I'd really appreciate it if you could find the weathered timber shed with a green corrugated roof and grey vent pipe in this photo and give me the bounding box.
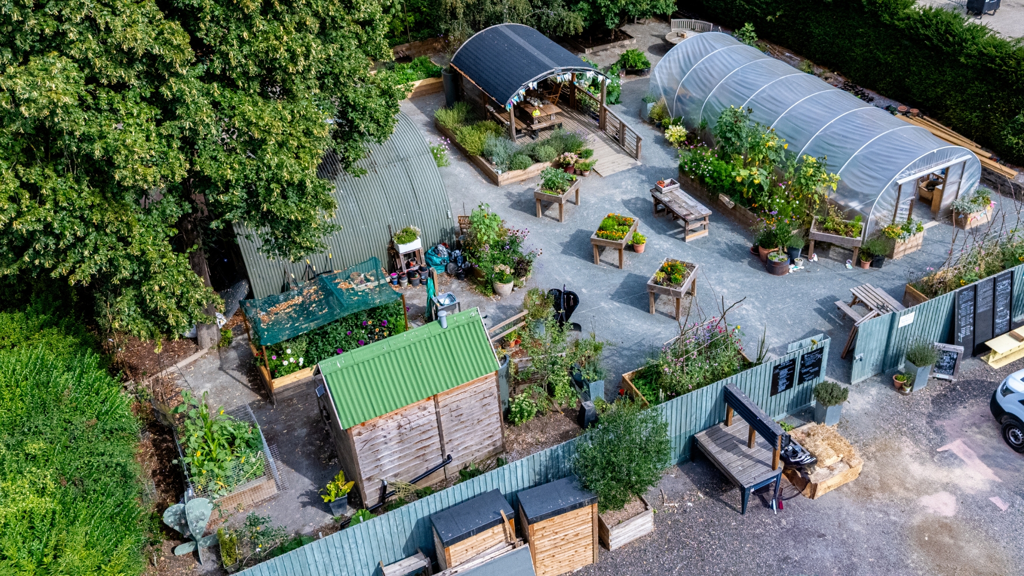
[311,305,507,517]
